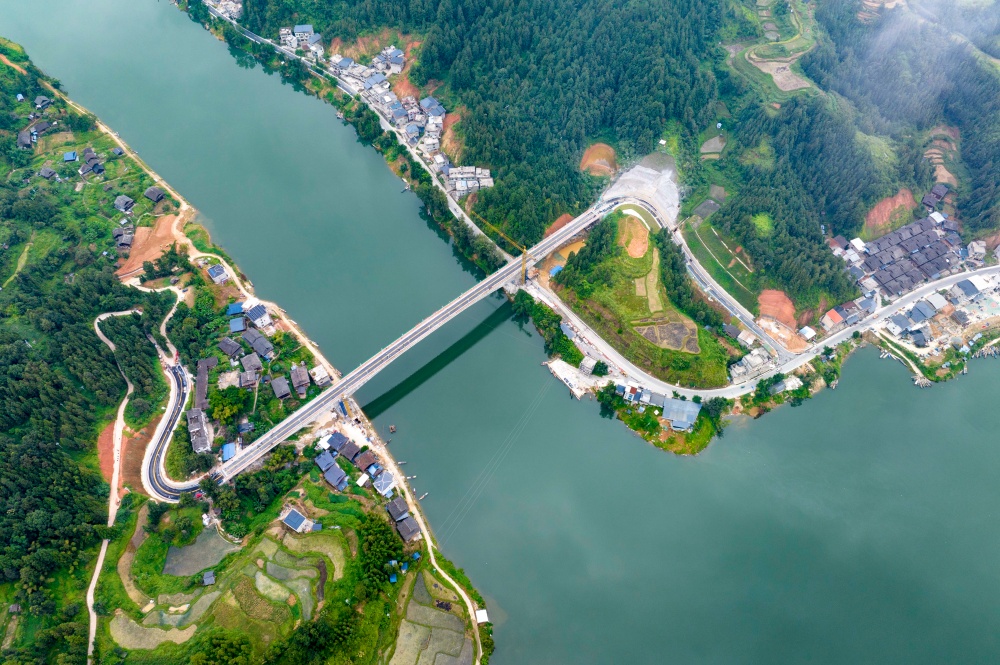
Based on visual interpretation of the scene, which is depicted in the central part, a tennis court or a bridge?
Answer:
bridge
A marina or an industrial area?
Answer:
marina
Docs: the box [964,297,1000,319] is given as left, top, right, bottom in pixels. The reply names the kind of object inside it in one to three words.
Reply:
basketball court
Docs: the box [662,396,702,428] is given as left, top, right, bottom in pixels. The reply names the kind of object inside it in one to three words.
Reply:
building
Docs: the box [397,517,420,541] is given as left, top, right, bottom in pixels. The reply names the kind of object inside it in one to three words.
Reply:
house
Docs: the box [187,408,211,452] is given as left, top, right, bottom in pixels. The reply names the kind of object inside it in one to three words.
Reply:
house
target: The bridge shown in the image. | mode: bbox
[219,208,600,478]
